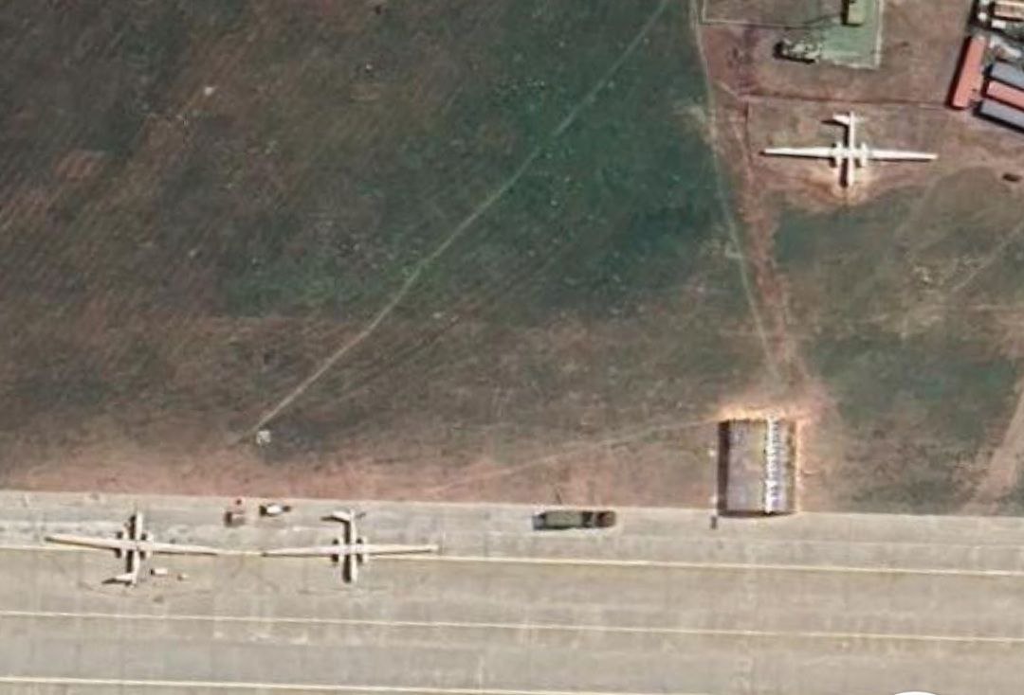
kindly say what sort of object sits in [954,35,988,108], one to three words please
building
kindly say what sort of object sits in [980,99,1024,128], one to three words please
building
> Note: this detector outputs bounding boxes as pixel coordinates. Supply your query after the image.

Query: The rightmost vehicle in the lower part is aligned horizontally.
[534,510,618,529]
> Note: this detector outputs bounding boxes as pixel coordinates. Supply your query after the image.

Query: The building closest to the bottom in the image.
[728,419,797,513]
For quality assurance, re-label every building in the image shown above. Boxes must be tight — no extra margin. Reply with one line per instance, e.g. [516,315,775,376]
[994,0,1024,17]
[850,0,866,23]
[728,419,797,513]
[987,80,1024,104]
[980,99,1024,128]
[991,62,1024,85]
[954,35,988,108]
